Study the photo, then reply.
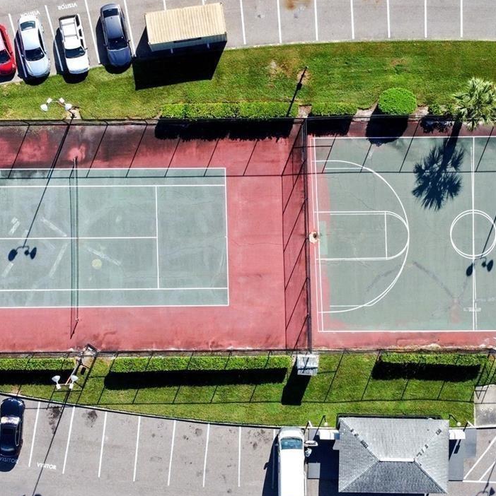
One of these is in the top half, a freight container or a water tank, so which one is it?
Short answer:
freight container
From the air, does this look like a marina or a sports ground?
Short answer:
sports ground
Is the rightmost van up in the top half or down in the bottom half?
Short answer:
bottom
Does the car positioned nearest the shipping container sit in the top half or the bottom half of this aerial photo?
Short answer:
top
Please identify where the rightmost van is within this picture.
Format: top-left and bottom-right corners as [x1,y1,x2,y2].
[276,425,316,496]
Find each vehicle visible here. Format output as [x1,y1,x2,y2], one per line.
[101,4,134,70]
[59,14,92,75]
[0,397,24,457]
[0,23,20,80]
[276,425,316,496]
[18,15,54,80]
